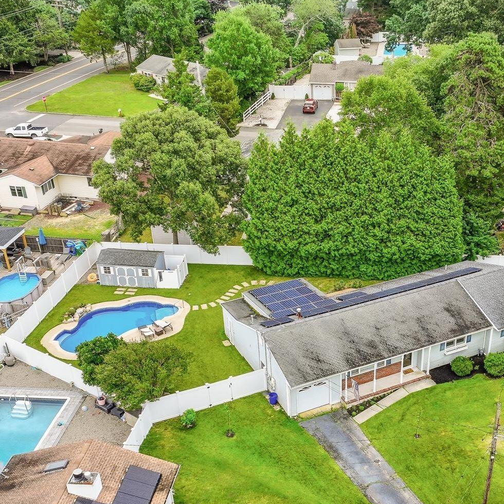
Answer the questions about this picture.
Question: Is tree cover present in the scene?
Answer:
Yes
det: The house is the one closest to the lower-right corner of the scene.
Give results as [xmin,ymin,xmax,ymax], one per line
[220,261,504,418]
